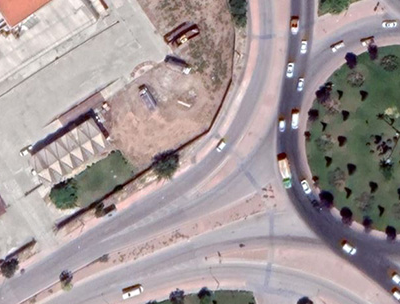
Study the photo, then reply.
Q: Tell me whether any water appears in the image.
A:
No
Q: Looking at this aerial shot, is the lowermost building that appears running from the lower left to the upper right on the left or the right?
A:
left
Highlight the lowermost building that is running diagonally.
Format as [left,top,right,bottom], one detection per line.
[32,114,109,184]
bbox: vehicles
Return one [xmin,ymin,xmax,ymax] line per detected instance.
[101,205,118,217]
[291,17,298,33]
[92,209,106,221]
[301,179,311,194]
[360,38,374,46]
[164,58,187,75]
[331,42,344,52]
[382,20,397,27]
[120,285,143,299]
[342,242,357,254]
[287,62,294,76]
[297,76,305,91]
[392,274,400,284]
[277,155,292,190]
[278,119,285,131]
[292,110,299,126]
[301,40,308,54]
[392,290,400,300]
[215,139,227,152]
[137,83,156,111]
